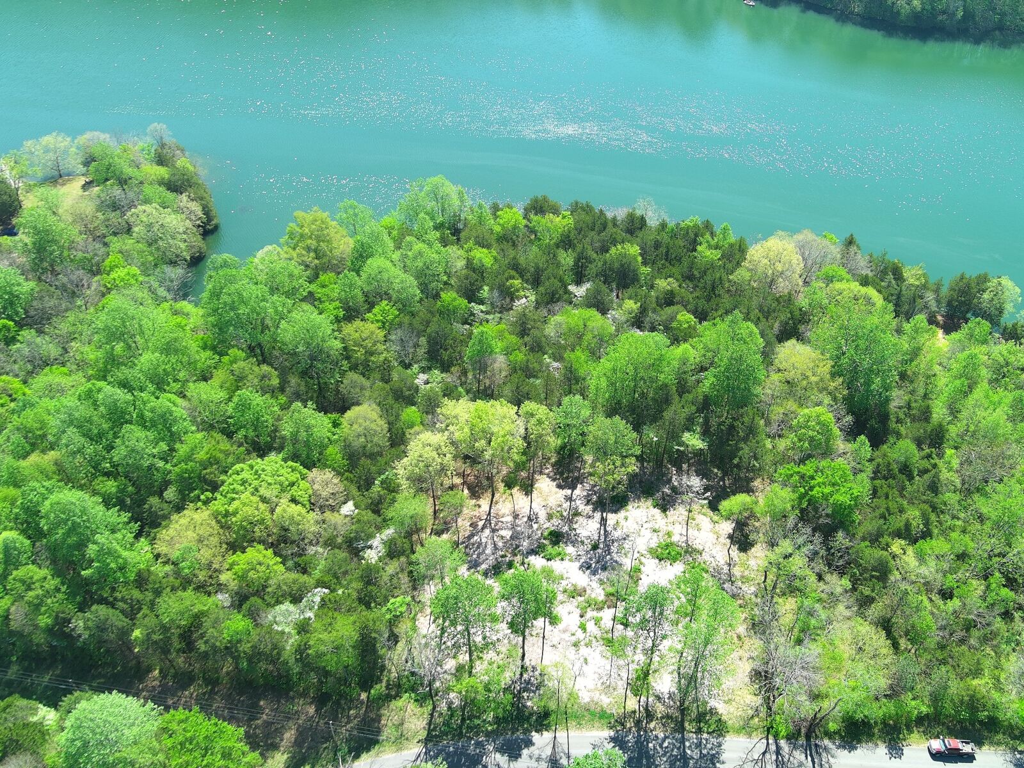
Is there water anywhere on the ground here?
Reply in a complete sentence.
Yes, there's water in this view.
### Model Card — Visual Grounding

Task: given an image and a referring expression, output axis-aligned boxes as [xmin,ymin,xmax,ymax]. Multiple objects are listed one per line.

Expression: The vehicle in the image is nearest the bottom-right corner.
[931,740,980,761]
